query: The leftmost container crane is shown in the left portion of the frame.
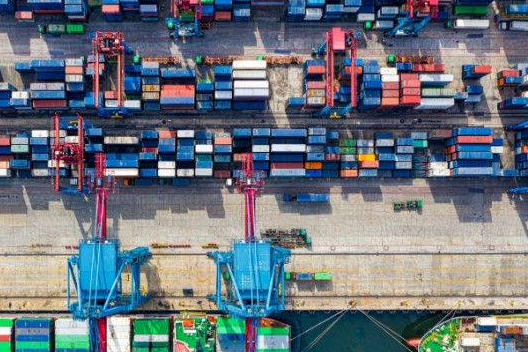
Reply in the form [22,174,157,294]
[53,112,96,196]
